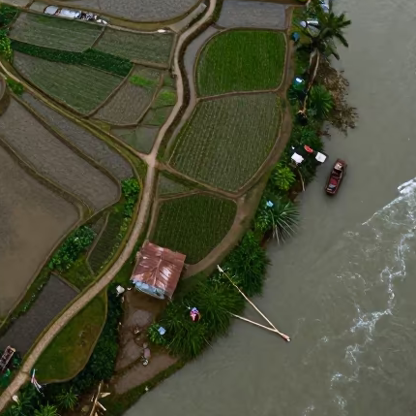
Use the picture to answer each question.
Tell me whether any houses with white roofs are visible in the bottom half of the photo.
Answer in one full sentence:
No, in the bottom half of the photo there is no house with a white roof.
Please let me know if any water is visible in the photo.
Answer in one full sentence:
Yes, some water is visible.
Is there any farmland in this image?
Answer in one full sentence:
Yes, farmland can be seen from above here.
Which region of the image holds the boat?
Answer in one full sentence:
The boat is in the right part of the image.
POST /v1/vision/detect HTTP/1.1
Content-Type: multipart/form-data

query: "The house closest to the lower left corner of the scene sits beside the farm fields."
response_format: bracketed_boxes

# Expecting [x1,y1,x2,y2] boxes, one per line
[125,242,188,309]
